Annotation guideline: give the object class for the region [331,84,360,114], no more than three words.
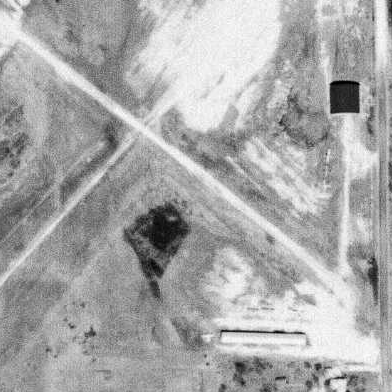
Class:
hangar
